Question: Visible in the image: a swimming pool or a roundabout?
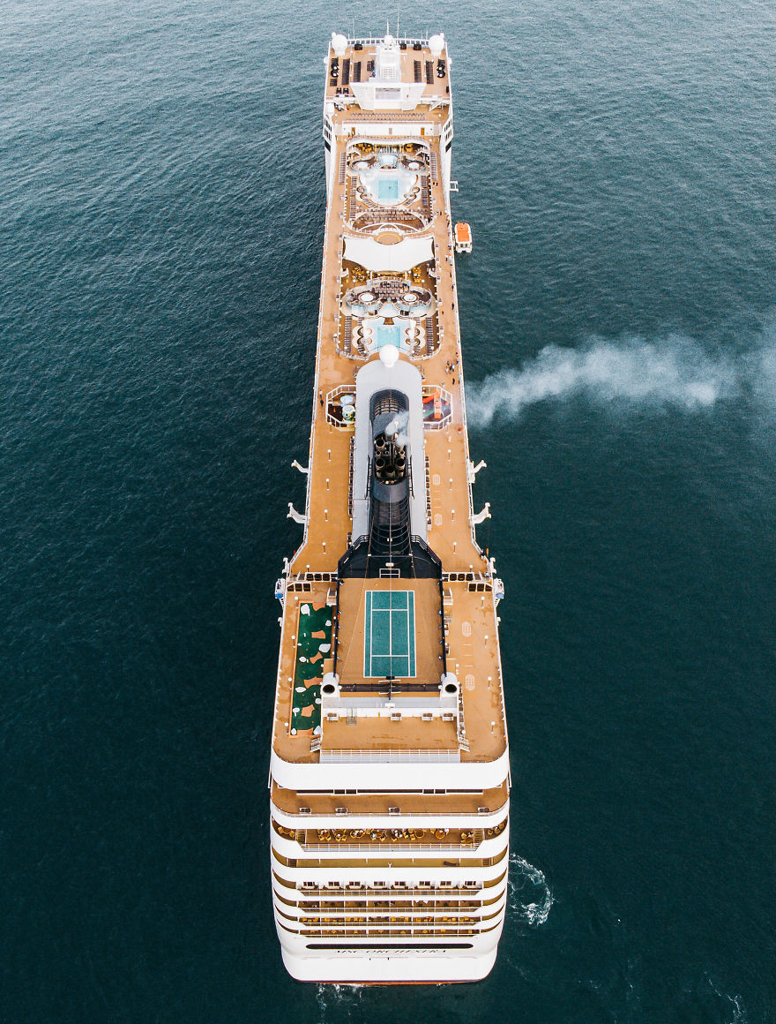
swimming pool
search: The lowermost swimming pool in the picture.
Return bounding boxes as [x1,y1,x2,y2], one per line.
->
[376,322,403,354]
